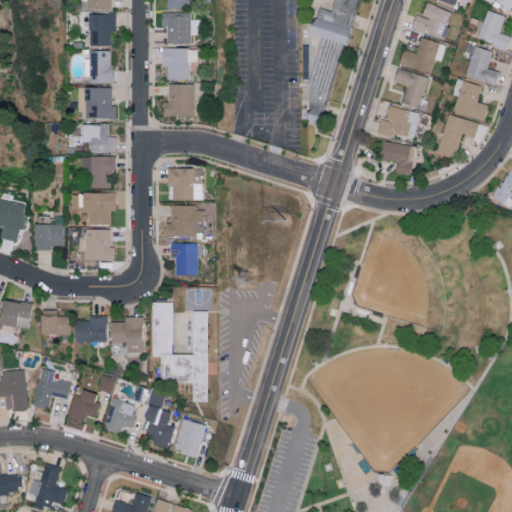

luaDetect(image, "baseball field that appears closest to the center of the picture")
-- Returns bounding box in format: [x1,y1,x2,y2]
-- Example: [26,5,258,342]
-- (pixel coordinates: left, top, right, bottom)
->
[354,223,430,324]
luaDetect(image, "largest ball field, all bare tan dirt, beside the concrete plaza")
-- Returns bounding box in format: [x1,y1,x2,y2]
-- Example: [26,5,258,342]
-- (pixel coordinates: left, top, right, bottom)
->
[310,350,468,472]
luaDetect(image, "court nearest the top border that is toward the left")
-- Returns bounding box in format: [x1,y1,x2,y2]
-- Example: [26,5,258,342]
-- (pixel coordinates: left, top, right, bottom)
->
[186,288,212,310]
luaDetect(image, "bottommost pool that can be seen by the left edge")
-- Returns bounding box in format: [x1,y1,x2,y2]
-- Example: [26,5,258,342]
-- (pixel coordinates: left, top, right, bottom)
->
[23,354,40,368]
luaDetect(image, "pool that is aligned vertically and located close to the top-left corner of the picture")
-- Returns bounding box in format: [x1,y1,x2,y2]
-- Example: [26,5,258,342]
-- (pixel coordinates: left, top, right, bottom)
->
[72,54,84,79]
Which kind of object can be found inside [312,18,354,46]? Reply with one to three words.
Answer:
building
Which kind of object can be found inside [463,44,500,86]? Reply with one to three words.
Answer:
house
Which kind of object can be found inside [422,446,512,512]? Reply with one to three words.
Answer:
baseball field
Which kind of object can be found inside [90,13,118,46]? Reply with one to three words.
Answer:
house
